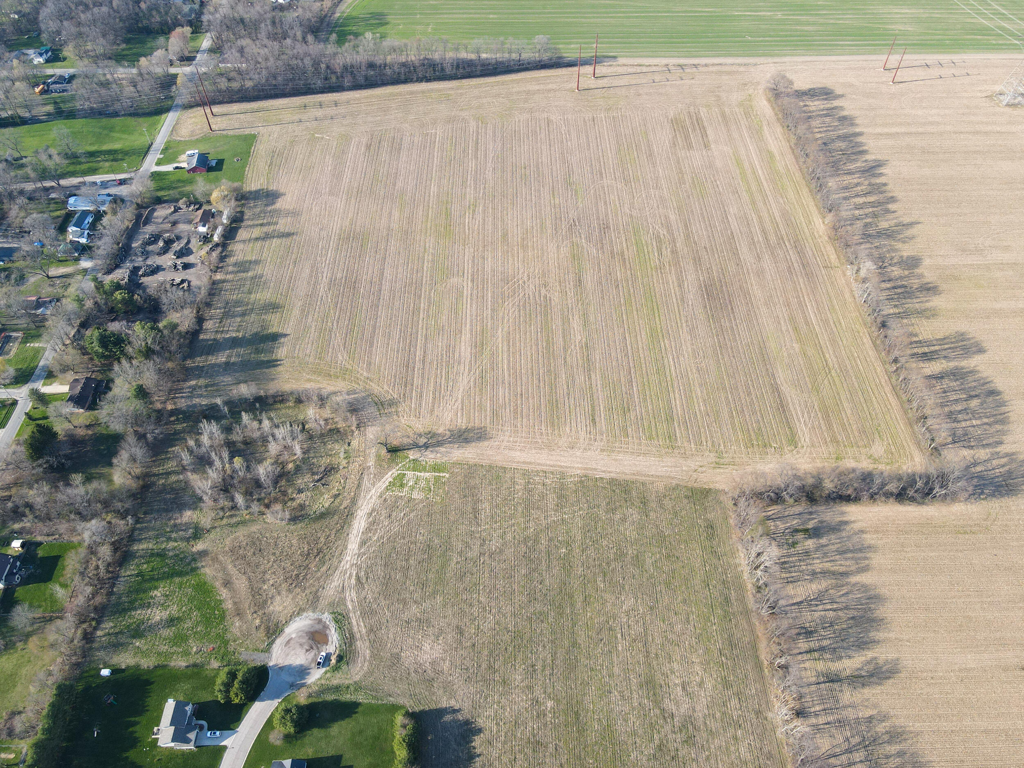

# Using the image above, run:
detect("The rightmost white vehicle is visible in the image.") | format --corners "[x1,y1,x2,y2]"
[314,651,326,669]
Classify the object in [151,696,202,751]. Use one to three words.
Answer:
house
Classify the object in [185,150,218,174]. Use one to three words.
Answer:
house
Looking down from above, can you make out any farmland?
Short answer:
Yes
